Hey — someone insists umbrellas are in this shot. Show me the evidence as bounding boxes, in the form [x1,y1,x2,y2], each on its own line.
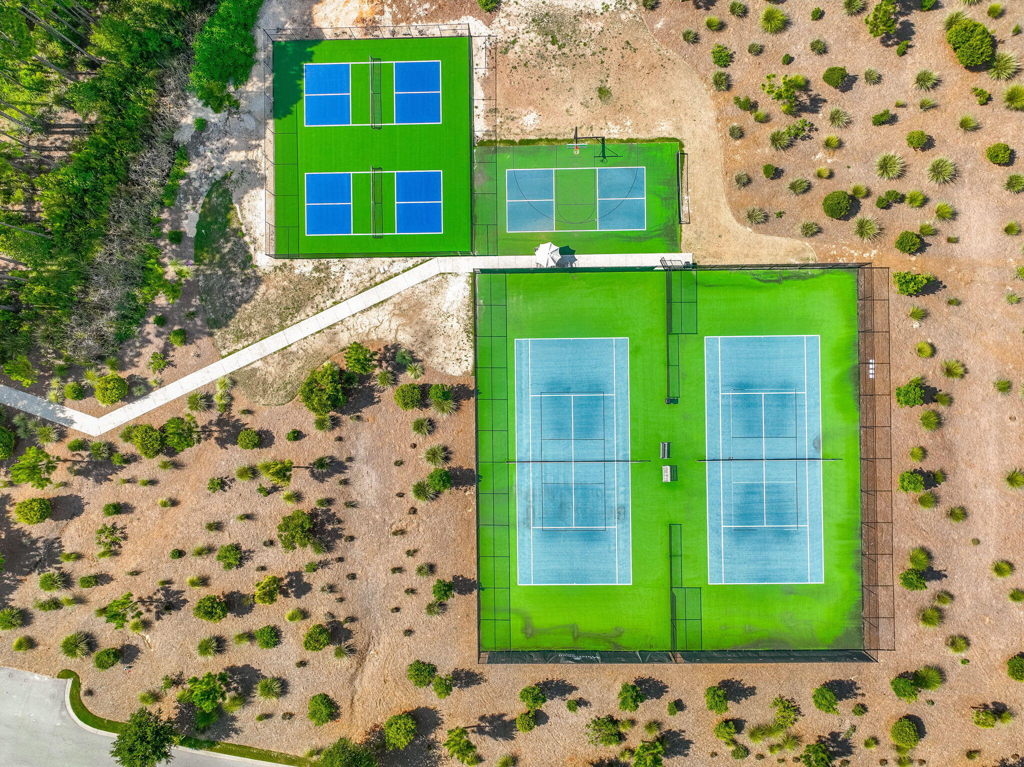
[534,240,562,269]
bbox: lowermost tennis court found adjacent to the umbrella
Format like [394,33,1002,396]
[477,271,672,652]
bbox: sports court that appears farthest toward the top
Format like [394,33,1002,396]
[273,37,472,150]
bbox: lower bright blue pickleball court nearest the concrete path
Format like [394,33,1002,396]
[274,146,473,258]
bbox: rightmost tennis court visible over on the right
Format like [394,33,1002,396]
[668,268,863,651]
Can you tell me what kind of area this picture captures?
sports ground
